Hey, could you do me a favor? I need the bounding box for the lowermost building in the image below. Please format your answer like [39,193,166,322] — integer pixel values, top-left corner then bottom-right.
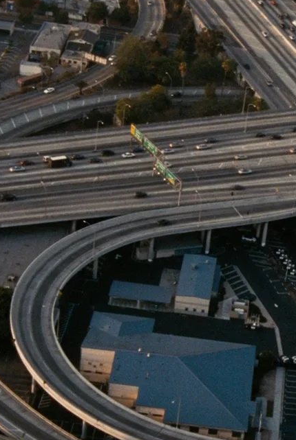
[81,312,263,440]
